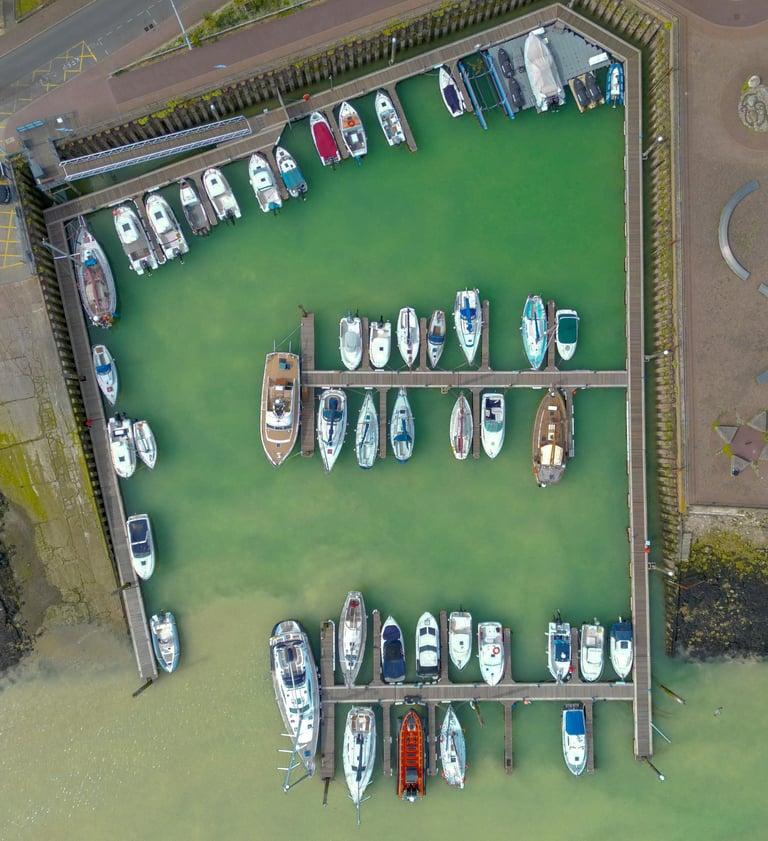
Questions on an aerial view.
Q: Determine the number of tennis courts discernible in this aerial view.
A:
0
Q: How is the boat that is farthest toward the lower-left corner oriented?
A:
from top to bottom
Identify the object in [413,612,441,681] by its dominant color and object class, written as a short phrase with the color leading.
white boat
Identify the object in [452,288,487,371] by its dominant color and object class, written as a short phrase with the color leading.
white boat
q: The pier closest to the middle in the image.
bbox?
[375,388,391,458]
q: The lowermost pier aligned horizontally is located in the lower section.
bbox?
[335,682,634,702]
